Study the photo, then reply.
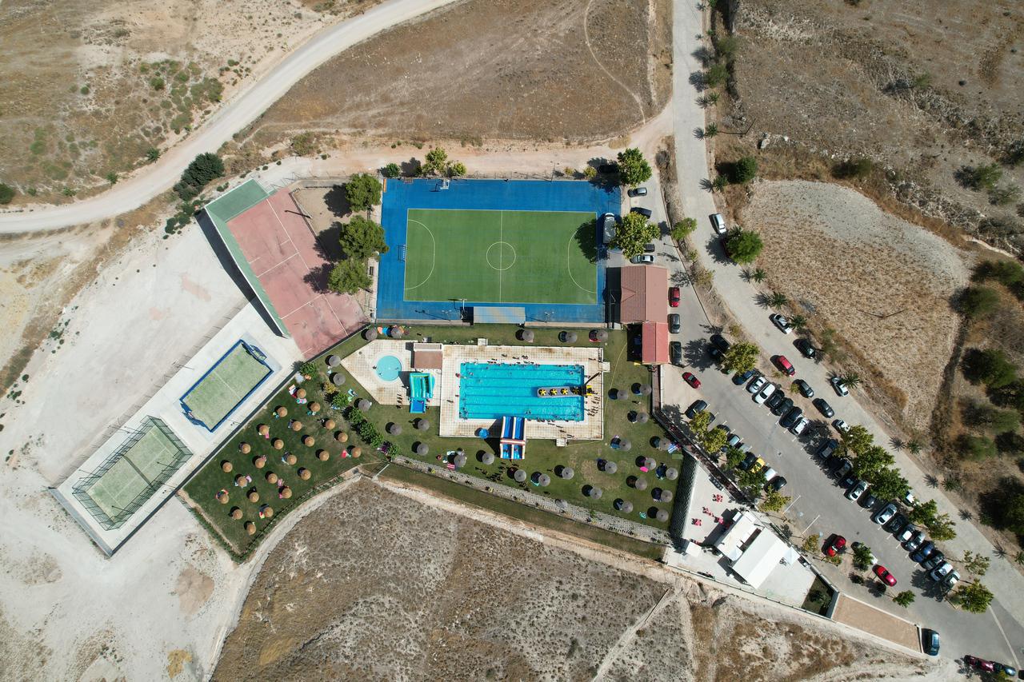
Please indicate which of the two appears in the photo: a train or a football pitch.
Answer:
football pitch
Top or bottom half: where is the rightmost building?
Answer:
bottom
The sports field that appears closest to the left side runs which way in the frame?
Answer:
diagonally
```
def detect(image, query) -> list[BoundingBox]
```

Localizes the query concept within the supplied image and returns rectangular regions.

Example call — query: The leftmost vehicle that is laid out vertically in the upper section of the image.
[604,215,616,245]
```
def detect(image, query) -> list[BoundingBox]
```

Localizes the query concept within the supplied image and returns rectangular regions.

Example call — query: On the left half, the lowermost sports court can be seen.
[73,420,190,529]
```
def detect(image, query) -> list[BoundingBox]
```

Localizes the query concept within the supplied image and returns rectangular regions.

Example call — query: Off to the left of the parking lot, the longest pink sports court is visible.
[203,177,365,356]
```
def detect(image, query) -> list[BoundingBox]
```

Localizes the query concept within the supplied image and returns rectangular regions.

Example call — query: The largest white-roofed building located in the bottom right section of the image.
[714,511,788,588]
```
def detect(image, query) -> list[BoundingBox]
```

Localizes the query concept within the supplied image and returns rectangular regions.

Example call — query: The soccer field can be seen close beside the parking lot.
[376,179,621,322]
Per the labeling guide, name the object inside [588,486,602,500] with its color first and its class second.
gray umbrella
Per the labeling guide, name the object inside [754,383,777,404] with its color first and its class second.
white car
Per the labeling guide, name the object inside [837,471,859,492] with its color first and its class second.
black car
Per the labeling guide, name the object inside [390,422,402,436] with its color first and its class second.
gray umbrella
